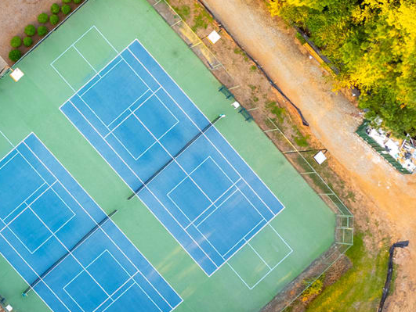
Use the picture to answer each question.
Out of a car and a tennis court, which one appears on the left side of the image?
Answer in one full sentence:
Looking on the left side of the image, you will find a tennis court.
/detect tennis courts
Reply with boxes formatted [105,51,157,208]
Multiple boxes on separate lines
[51,26,294,290]
[0,131,183,312]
